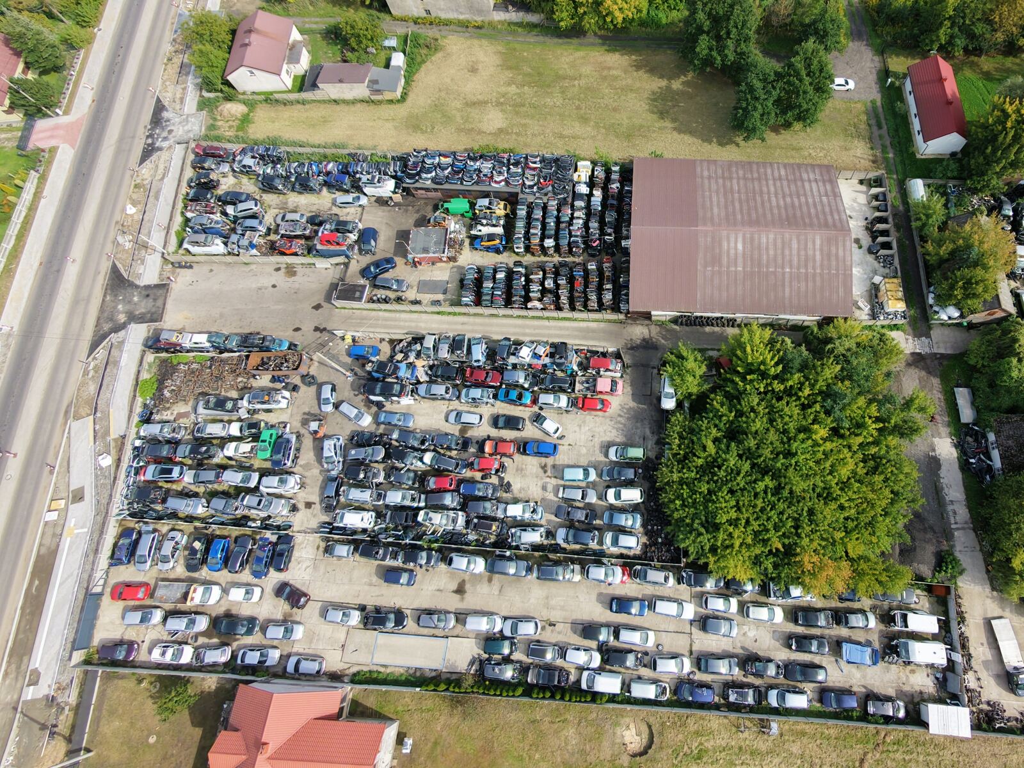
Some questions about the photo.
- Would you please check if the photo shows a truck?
Yes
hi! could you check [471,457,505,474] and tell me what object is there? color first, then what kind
red car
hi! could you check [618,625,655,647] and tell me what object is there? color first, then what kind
white vehicle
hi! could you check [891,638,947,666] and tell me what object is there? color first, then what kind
white van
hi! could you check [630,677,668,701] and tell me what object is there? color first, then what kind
white vehicle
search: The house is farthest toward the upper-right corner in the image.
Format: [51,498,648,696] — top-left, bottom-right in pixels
[902,54,967,153]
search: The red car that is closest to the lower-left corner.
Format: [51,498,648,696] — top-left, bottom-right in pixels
[111,581,155,602]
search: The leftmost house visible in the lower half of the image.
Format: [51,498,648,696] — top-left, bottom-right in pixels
[197,683,393,768]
